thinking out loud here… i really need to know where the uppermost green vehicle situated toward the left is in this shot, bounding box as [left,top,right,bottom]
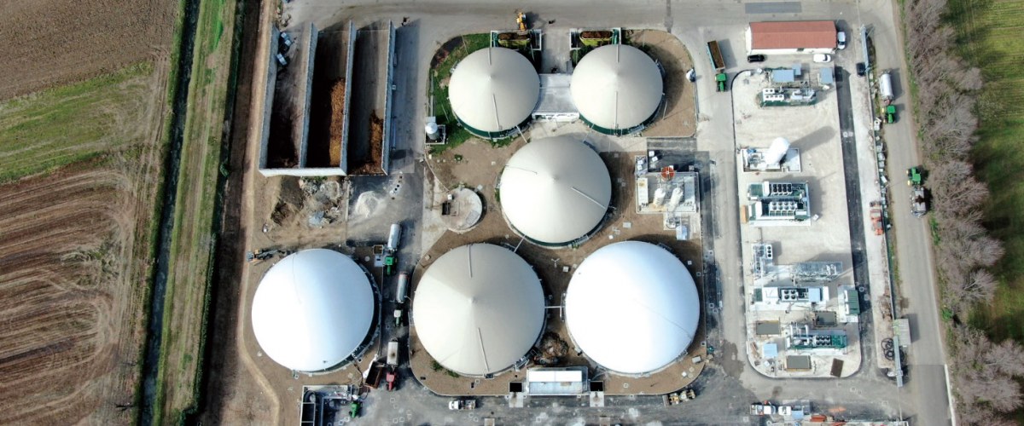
[384,254,396,274]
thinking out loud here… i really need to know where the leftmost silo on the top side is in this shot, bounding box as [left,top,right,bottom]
[423,120,446,145]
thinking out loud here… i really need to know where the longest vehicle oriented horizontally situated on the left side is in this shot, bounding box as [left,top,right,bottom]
[240,246,287,262]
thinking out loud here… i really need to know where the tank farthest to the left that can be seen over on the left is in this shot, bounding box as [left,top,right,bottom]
[250,248,383,375]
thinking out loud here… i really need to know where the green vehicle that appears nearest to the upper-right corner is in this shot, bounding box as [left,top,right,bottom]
[884,105,898,127]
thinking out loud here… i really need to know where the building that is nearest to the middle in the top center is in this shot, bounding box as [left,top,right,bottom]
[533,73,579,123]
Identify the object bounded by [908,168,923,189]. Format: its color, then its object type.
green work vehicle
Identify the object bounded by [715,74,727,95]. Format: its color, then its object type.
green vehicle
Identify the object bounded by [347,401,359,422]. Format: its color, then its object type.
green vehicle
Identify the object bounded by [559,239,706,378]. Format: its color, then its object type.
white storage tank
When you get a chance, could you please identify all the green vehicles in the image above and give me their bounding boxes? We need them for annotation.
[884,105,898,127]
[715,74,727,95]
[384,254,396,274]
[908,168,923,189]
[347,401,359,422]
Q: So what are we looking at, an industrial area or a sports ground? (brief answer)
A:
industrial area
